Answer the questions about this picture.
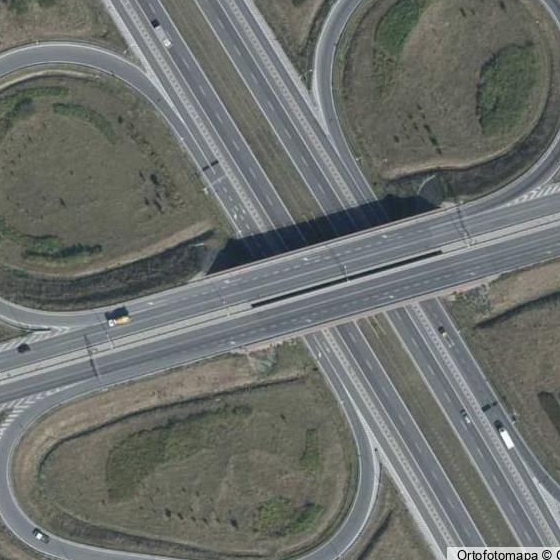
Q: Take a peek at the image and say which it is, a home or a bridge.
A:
bridge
